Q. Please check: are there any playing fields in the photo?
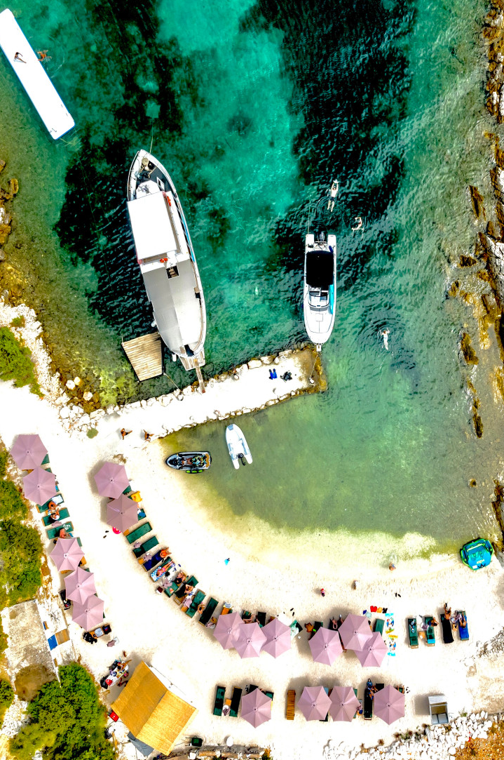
No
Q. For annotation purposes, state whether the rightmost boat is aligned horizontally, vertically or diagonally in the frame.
vertically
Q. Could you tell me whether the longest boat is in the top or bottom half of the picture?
top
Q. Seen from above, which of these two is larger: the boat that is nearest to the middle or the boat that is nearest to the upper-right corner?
the boat that is nearest to the upper-right corner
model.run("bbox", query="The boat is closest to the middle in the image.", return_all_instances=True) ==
[225,423,251,467]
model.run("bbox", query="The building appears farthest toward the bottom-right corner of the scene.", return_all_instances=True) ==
[428,695,449,726]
